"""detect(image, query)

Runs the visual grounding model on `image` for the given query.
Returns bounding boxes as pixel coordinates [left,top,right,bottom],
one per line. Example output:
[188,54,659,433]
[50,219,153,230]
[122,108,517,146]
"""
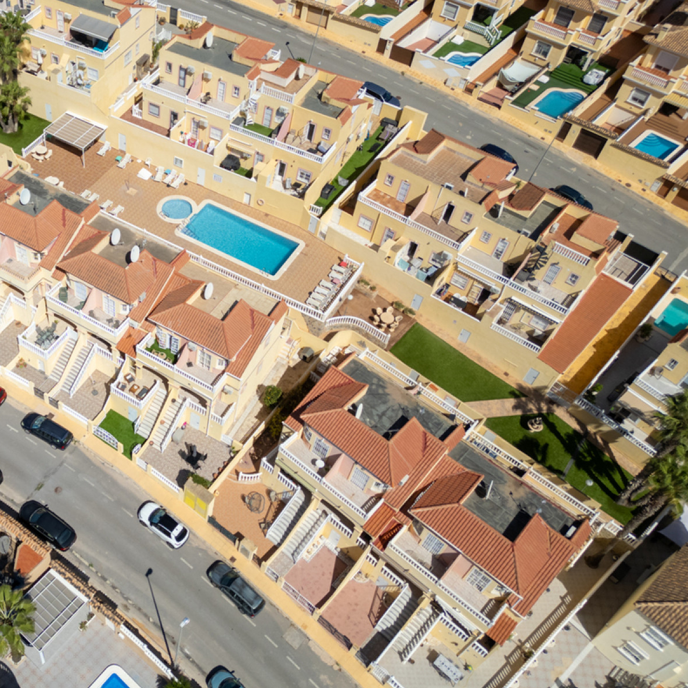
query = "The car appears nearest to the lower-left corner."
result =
[19,504,81,553]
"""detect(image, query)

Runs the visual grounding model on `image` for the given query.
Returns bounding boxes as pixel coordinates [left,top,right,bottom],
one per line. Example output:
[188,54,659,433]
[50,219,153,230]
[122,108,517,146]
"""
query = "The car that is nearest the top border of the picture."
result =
[363,78,403,107]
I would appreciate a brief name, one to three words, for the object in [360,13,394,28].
swimming pool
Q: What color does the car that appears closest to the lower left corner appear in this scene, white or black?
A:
black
